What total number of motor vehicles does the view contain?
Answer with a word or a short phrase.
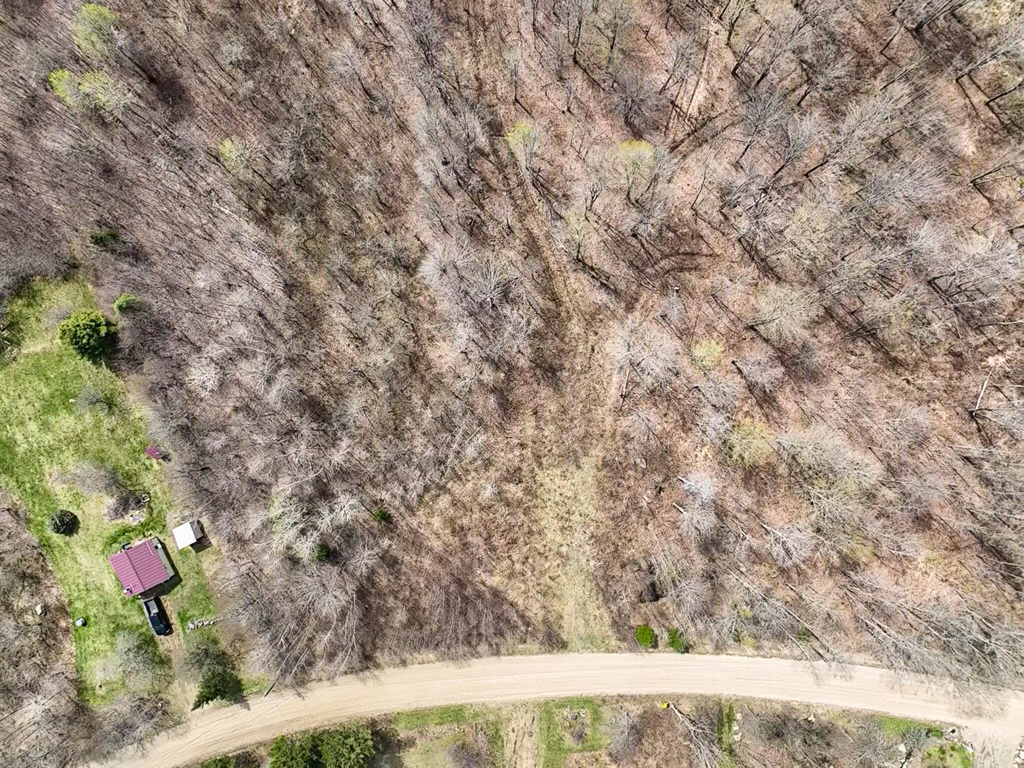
1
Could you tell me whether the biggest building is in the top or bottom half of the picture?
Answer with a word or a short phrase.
bottom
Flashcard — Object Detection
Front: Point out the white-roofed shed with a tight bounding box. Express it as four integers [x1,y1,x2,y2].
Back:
[171,520,204,549]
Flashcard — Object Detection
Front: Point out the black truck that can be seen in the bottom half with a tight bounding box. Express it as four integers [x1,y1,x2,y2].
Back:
[141,594,171,637]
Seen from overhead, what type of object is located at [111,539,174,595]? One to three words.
building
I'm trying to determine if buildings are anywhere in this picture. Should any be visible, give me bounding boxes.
[111,539,174,595]
[171,520,204,549]
[146,445,168,461]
